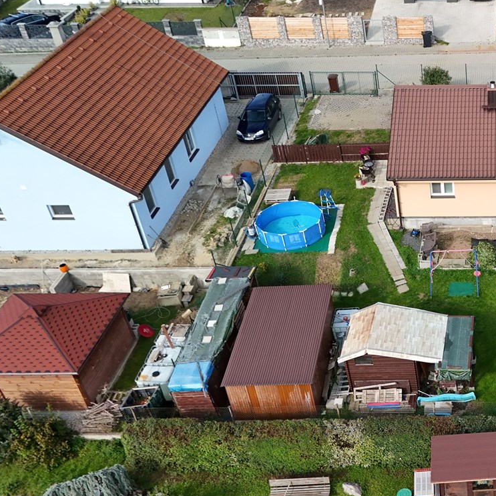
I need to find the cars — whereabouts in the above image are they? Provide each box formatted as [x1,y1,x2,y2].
[0,3,57,26]
[232,90,281,138]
